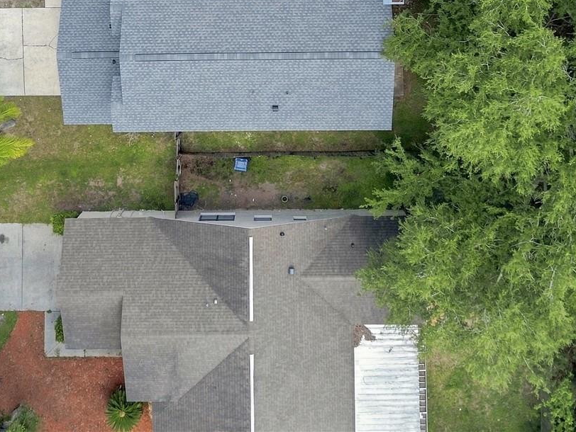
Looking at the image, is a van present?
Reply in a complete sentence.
No, the picture doesn't show any van.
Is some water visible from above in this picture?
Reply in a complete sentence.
No, there's no water in this view.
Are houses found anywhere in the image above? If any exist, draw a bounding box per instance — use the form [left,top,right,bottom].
[58,207,418,432]
[58,0,405,131]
